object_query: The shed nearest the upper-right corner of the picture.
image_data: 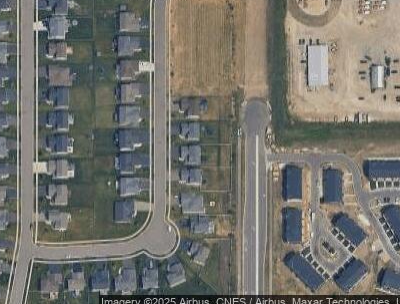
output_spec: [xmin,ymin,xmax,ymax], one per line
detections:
[371,65,384,91]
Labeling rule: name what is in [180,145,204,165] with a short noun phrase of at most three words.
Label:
house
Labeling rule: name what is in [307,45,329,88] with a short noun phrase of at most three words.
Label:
shed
